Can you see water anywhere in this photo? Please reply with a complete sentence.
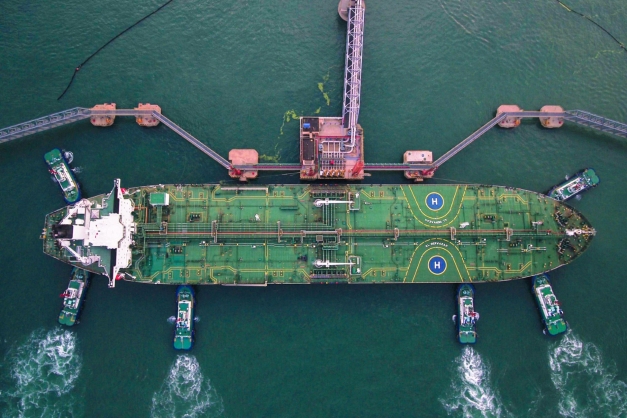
Yes, there is water in the image.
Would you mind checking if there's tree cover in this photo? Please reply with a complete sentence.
No, no tree cover is visible.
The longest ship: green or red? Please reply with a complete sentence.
In this view, the longest ship is green.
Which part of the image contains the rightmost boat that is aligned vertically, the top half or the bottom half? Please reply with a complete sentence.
Seen from above, the rightmost boat that is aligned vertically lies in the bottom half of the view.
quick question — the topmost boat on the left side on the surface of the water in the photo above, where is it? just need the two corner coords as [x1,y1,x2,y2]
[42,147,81,205]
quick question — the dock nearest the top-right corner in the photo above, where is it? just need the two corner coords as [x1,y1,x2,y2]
[338,0,365,23]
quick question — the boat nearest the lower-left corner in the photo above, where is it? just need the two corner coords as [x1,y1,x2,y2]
[55,265,88,327]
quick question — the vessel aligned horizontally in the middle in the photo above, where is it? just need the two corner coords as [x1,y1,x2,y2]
[40,178,599,287]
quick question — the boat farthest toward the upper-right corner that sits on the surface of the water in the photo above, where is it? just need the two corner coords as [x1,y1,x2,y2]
[543,166,601,203]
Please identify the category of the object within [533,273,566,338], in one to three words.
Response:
boat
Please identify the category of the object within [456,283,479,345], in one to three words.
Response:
boat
